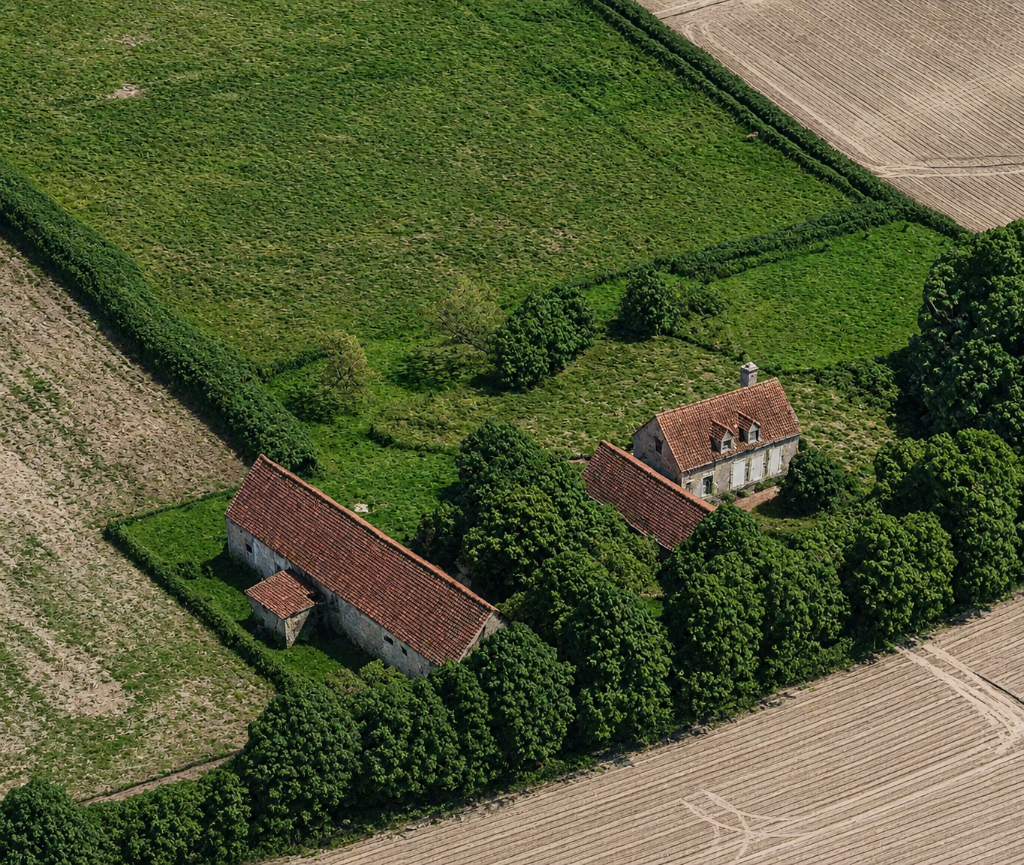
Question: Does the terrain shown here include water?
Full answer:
No, the picture contains no water.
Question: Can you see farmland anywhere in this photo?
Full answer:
Yes, some farmland is visible.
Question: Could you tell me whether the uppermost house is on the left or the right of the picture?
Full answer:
The uppermost house sits on the right side.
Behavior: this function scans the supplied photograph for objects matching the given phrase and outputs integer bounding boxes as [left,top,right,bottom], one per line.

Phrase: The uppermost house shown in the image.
[628,359,801,506]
